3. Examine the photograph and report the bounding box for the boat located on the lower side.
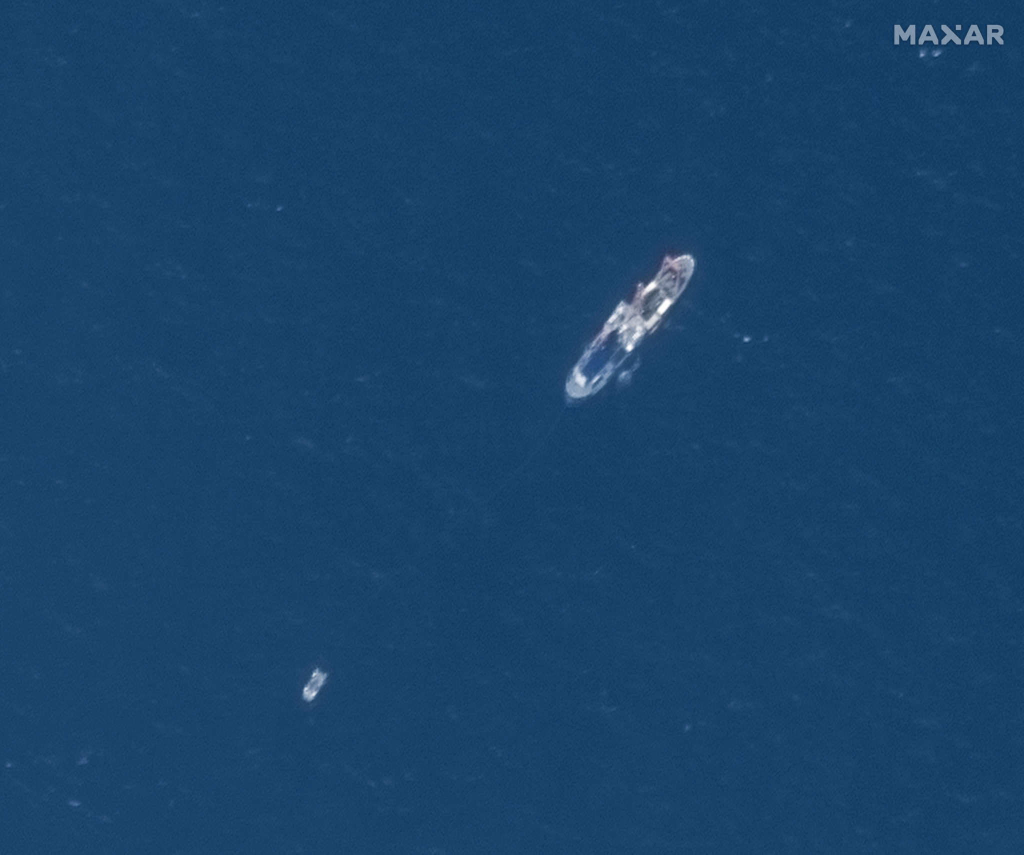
[303,668,327,701]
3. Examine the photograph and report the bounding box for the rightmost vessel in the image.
[566,254,694,398]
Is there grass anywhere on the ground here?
No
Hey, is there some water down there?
Yes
